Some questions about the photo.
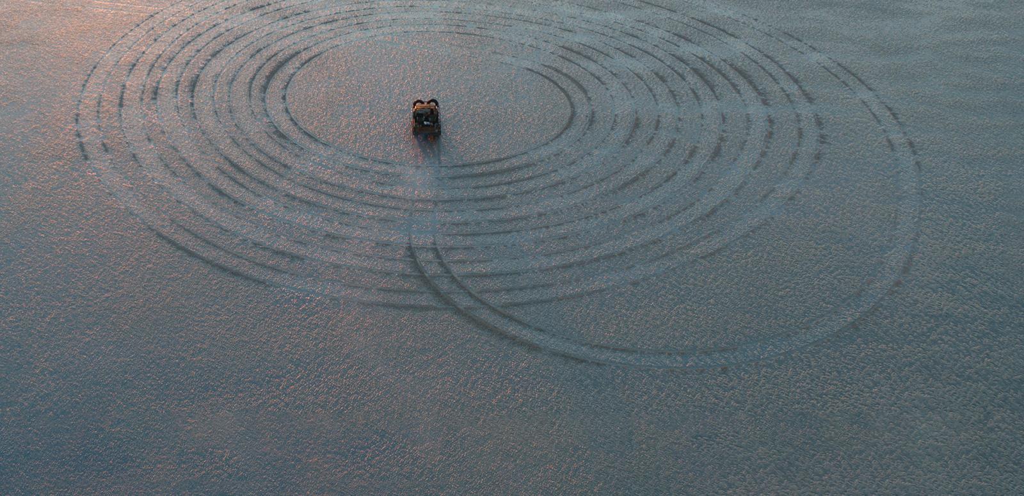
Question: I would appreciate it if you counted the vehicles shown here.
1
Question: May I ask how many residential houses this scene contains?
zero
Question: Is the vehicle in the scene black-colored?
Yes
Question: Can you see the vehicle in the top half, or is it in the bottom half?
top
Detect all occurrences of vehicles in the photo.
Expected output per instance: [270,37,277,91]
[413,98,442,139]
